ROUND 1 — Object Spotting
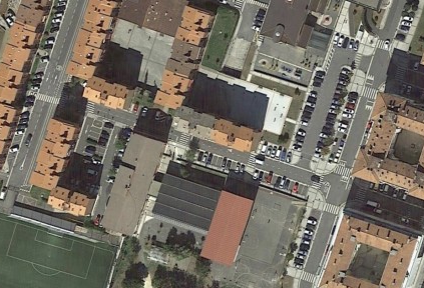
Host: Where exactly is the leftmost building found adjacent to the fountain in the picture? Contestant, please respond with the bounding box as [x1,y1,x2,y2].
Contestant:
[259,0,315,48]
